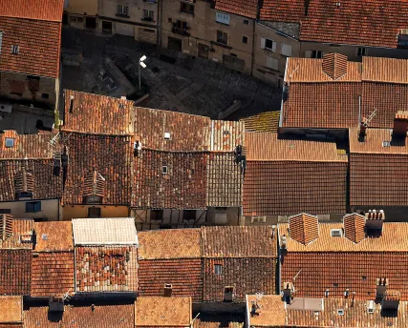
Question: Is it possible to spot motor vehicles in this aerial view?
No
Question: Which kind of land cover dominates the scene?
buildings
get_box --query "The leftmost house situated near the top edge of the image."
[0,0,64,115]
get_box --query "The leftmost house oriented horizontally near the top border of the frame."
[65,0,163,46]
